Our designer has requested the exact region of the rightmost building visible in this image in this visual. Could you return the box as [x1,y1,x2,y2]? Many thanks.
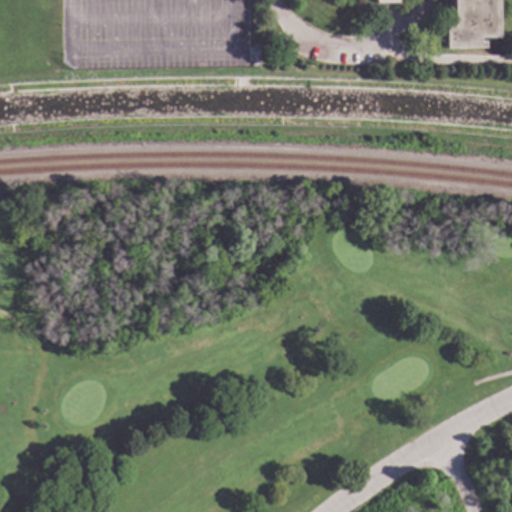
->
[450,0,505,48]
